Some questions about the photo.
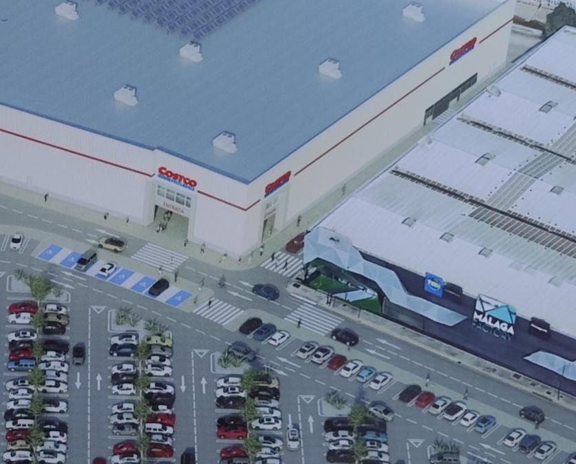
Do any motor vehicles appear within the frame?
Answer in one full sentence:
Yes, this view includes a motor vehicle.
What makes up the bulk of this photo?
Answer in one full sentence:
What you mostly see from above here is buildings.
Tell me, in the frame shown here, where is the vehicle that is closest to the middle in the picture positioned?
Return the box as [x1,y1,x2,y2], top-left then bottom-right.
[286,233,304,253]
